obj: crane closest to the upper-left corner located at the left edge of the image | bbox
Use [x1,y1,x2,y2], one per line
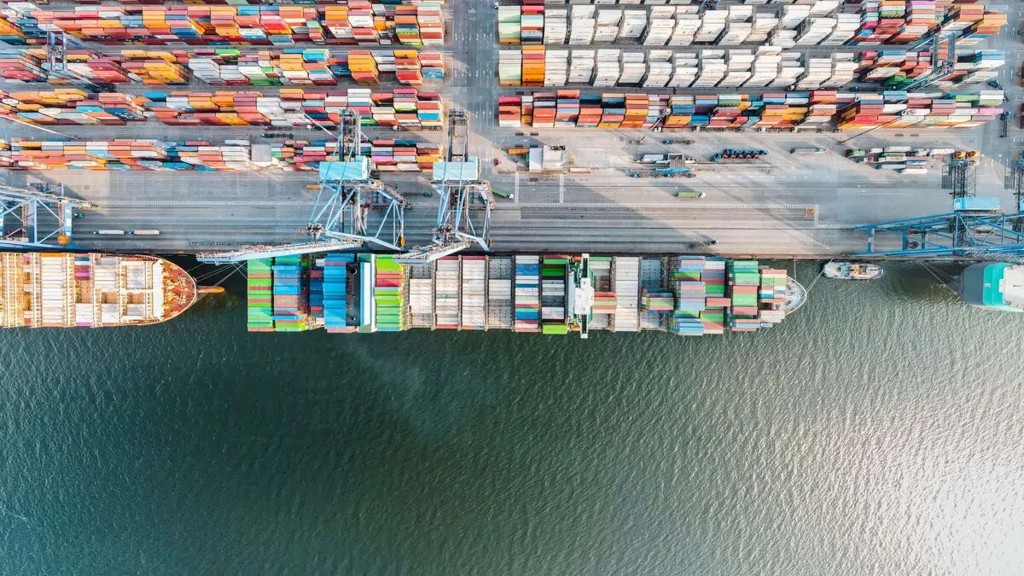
[39,31,104,90]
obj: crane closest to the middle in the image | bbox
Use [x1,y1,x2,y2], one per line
[390,107,497,259]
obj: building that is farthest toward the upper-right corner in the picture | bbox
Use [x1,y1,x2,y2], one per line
[527,146,567,174]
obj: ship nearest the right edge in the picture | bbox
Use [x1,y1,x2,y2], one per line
[963,262,1024,311]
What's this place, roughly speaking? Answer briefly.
port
